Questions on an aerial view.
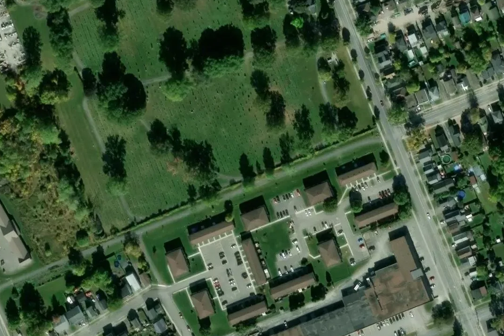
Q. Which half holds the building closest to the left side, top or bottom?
bottom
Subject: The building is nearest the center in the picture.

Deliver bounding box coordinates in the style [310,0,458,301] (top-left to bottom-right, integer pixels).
[239,205,271,232]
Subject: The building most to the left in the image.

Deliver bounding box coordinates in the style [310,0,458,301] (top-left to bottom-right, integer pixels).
[0,208,32,265]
